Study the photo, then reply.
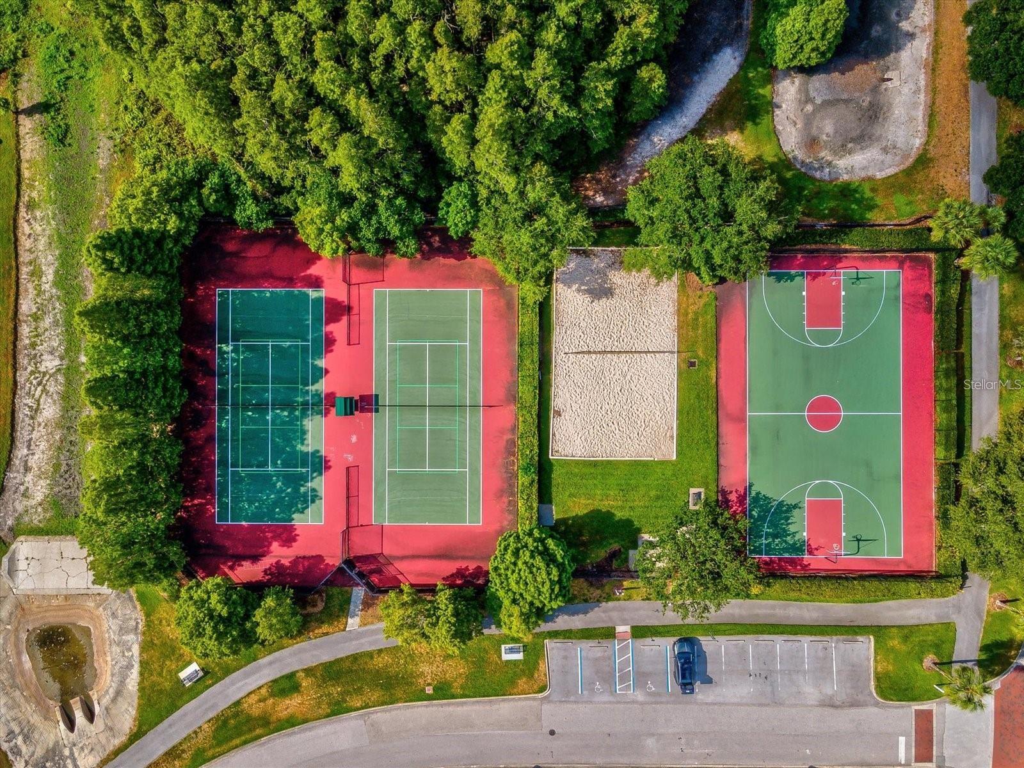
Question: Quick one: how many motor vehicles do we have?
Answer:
1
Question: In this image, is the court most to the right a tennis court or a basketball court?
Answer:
basketball court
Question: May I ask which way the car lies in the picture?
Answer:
vertically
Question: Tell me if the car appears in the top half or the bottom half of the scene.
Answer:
bottom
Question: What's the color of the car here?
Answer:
blue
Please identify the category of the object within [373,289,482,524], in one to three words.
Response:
tennis court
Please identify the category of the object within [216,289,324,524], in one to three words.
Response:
tennis court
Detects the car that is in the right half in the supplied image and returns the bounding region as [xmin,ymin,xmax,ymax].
[672,637,695,697]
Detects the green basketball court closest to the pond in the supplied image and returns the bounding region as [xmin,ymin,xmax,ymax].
[715,255,936,574]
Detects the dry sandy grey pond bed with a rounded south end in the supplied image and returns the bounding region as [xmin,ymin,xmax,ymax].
[773,0,933,180]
